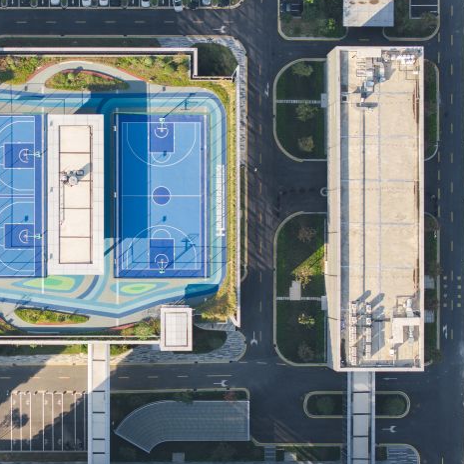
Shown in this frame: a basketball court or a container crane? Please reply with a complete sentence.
Looking from above, you can make out a basketball court.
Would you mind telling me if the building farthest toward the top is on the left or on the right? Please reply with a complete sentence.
The building farthest toward the top is on the right side of the image.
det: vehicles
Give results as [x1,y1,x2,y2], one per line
[172,0,183,12]
[201,0,210,5]
[189,0,198,8]
[277,1,302,12]
[20,0,30,6]
[98,0,108,6]
[111,0,120,6]
[141,0,150,7]
[218,0,227,6]
[51,0,60,5]
[81,0,91,7]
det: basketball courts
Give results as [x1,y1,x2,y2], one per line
[0,114,48,277]
[113,112,211,278]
